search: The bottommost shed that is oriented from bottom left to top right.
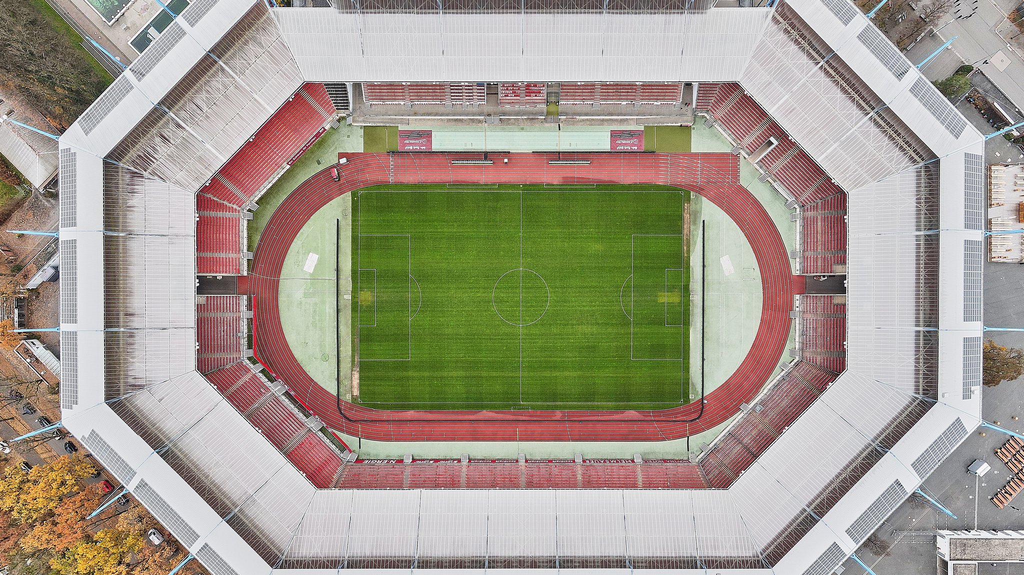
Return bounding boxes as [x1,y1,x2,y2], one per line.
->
[27,256,59,289]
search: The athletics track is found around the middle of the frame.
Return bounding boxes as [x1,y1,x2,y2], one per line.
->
[248,153,794,441]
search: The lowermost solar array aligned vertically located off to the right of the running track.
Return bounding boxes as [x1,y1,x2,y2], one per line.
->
[963,337,980,399]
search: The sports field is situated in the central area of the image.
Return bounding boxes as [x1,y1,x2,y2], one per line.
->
[351,183,691,411]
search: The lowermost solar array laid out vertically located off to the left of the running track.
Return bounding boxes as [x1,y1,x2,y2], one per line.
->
[62,331,77,409]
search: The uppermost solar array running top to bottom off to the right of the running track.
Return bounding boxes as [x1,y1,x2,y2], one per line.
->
[965,152,982,230]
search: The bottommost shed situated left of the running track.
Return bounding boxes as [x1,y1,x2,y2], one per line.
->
[13,340,60,399]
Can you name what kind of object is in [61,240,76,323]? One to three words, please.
solar array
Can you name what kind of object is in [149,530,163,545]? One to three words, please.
vehicle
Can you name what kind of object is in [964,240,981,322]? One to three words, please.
solar array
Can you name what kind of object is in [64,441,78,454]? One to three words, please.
vehicle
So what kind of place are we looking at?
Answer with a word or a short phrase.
sports ground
